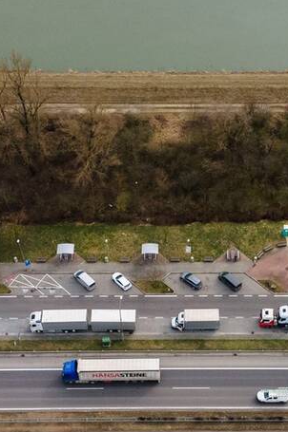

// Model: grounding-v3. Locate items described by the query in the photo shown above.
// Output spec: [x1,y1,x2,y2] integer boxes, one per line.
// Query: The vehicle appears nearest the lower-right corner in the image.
[257,389,288,403]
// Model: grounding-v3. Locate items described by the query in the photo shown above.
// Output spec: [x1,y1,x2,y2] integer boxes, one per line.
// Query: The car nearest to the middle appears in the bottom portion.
[112,272,130,291]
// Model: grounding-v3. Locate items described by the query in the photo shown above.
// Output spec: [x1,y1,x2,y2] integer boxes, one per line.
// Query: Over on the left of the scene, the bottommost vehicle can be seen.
[61,358,160,383]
